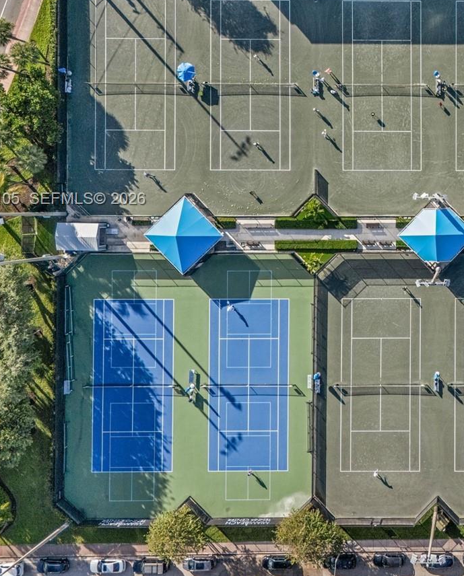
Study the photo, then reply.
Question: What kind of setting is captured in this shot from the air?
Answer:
sports ground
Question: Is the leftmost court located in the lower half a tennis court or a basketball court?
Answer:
tennis court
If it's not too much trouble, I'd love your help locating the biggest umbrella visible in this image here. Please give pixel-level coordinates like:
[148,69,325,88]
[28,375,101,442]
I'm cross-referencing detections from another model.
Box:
[176,62,197,82]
